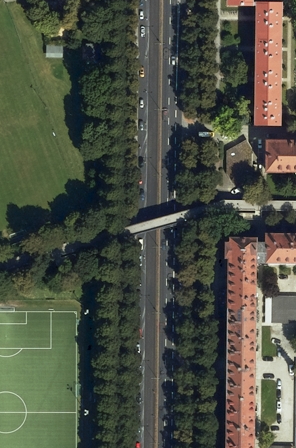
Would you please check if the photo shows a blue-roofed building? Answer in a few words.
No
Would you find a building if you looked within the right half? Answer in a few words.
Yes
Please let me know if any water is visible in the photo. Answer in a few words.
No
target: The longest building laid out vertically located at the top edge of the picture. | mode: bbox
[251,1,284,127]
